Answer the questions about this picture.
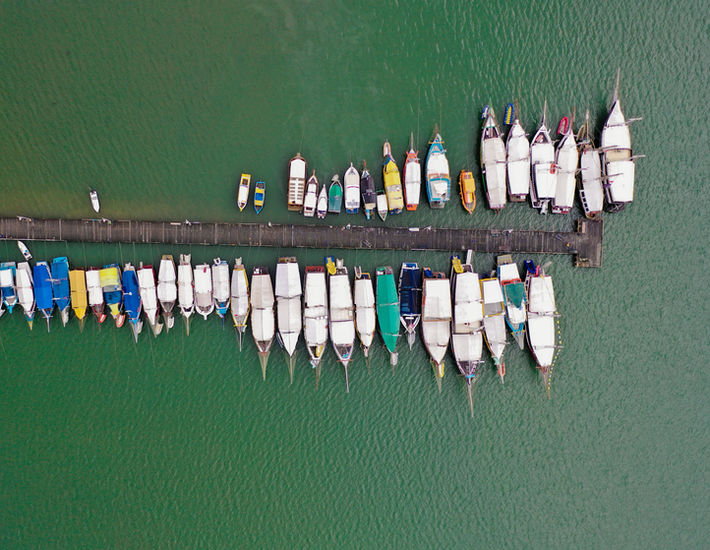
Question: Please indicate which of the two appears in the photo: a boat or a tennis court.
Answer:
boat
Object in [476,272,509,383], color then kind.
white boat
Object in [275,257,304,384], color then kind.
white boat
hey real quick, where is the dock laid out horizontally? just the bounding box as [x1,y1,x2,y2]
[0,216,604,268]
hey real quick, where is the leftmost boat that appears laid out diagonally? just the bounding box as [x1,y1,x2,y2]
[18,241,33,261]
